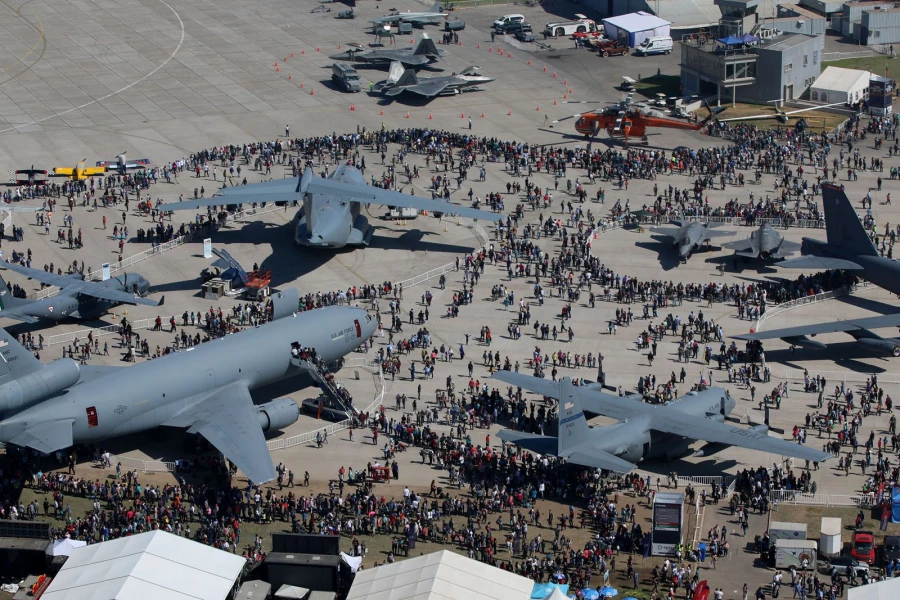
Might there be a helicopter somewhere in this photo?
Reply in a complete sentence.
Yes, a helicopter is visible in the scene.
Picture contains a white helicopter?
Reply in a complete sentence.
No, I can't see a single white helicopter in this photo.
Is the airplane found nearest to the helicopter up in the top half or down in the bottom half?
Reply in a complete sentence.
Seen from above, the airplane found nearest to the helicopter lies in the top half of the view.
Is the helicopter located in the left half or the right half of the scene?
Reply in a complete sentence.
The helicopter sits on the right side.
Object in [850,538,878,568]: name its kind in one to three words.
truck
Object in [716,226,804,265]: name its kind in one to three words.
airplane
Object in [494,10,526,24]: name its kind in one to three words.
vehicle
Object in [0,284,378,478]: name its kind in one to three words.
airplane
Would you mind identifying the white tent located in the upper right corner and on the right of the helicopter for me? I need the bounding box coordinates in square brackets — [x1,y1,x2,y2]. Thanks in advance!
[807,62,874,105]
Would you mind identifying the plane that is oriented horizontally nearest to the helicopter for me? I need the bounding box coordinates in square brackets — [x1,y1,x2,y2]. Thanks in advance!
[725,97,841,122]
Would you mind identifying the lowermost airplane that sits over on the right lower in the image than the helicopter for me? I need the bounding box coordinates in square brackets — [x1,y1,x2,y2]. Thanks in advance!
[494,366,832,471]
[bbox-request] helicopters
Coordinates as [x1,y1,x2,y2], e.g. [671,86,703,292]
[560,90,728,148]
